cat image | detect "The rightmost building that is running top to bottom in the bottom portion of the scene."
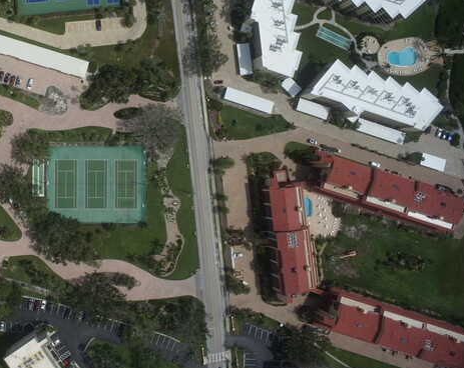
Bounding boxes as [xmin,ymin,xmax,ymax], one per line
[257,168,319,302]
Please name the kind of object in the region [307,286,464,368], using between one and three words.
building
